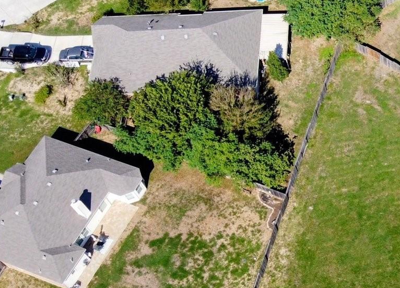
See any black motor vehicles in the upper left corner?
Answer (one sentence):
Yes, you'll find a black motor vehicle in the upper left corner.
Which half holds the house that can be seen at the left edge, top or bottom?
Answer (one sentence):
The house that can be seen at the left edge is in the bottom half of the image.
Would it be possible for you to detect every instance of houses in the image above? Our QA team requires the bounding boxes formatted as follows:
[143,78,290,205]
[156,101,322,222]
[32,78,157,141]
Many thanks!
[85,9,290,104]
[0,136,147,288]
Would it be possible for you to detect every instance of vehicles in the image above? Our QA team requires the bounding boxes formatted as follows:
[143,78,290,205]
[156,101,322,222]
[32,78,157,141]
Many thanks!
[57,44,89,65]
[0,44,50,66]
